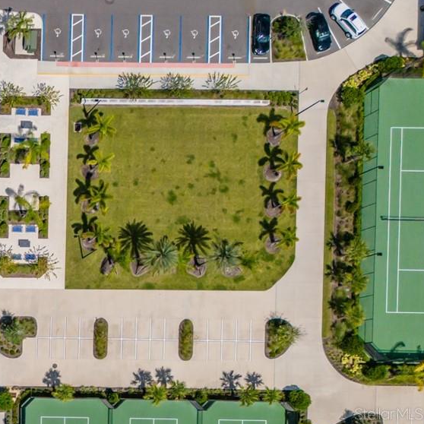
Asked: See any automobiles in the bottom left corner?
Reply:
No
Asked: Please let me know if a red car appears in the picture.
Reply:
No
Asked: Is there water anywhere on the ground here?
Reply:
No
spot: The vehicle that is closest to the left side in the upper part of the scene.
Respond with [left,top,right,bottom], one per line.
[254,12,276,53]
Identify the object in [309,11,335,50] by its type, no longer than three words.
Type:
car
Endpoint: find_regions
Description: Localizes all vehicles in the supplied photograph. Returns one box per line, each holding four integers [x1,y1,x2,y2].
[254,12,276,53]
[334,4,367,40]
[309,11,335,50]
